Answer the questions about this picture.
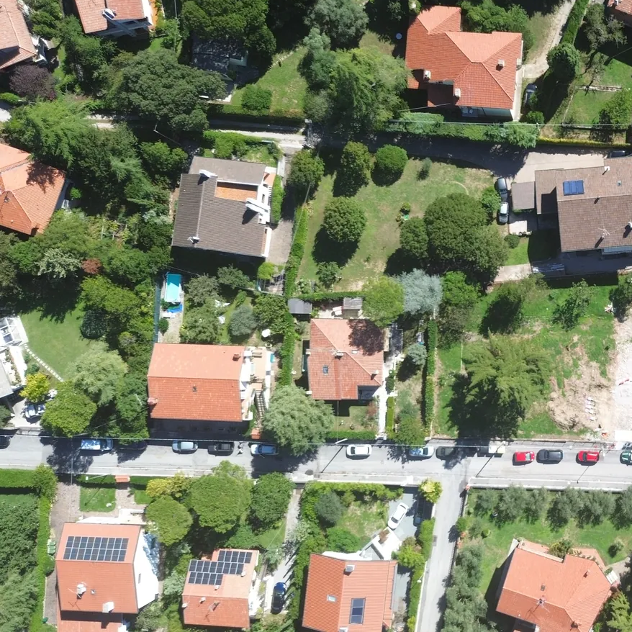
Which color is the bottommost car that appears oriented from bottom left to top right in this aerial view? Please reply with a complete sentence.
The bottommost car that appears oriented from bottom left to top right is white.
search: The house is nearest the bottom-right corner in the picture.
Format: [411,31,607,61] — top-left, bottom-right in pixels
[490,532,619,632]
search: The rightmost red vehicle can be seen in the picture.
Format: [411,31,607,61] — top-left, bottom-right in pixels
[577,451,599,463]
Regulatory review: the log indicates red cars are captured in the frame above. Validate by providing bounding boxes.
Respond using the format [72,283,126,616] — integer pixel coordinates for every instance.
[577,451,599,463]
[515,451,535,462]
